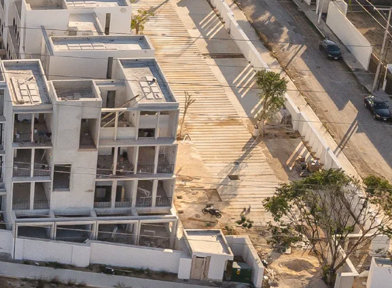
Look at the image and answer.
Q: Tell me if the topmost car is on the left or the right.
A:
right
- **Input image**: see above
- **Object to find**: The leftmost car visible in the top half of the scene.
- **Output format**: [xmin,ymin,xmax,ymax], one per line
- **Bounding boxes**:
[320,34,344,56]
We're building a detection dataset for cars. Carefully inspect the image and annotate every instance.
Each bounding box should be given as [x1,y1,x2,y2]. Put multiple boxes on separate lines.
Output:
[367,92,392,116]
[320,34,344,56]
